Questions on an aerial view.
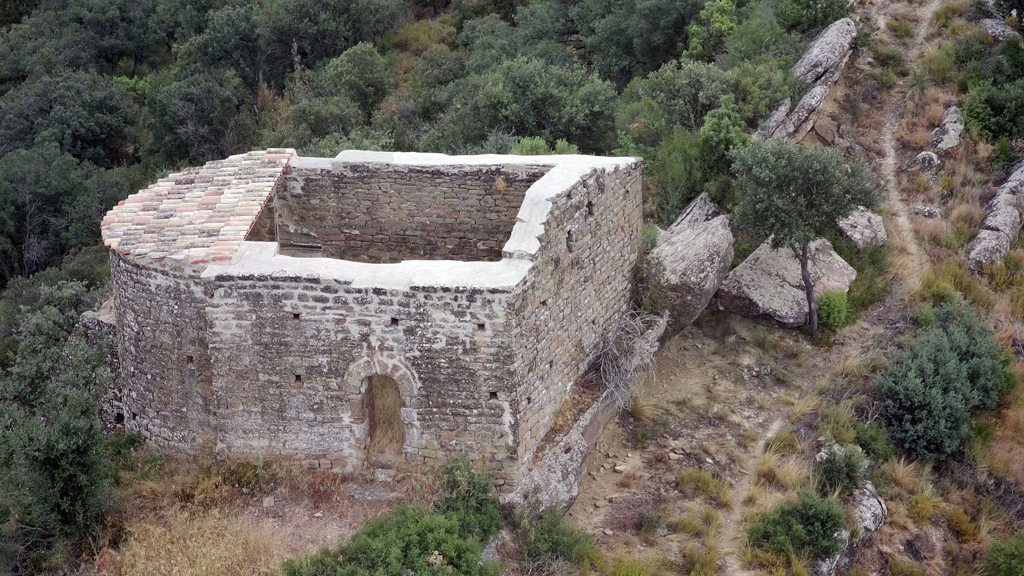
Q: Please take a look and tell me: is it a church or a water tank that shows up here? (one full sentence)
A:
This aerial view contains a church.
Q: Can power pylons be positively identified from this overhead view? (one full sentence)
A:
No, there is no power pylon in the image.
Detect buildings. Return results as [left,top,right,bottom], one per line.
[99,152,641,494]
